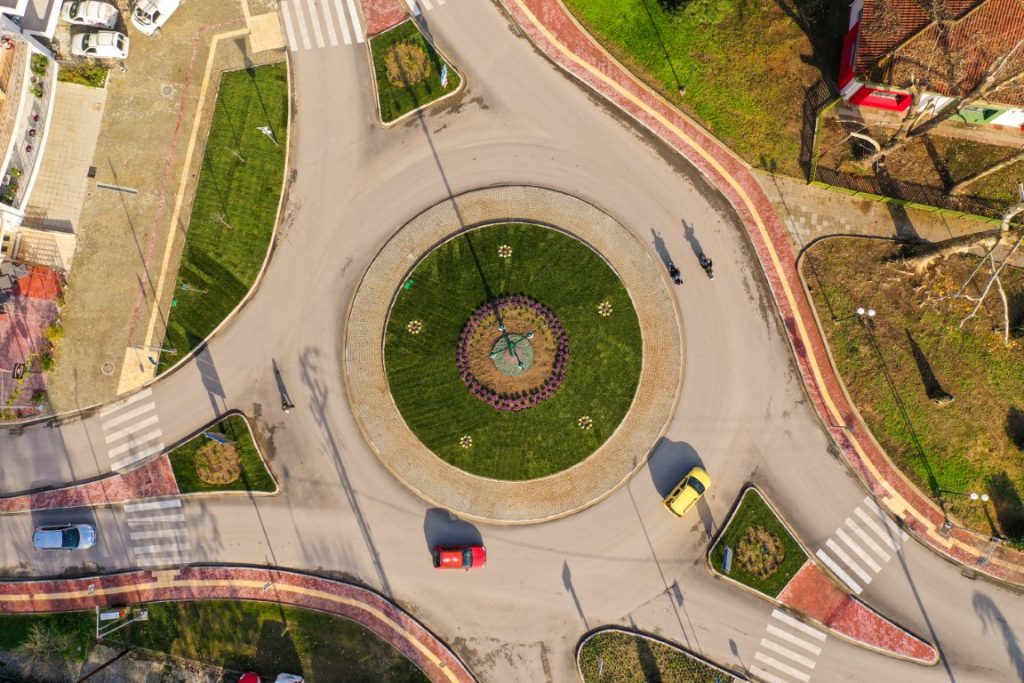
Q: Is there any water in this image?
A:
No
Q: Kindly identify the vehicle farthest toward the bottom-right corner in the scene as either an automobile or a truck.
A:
automobile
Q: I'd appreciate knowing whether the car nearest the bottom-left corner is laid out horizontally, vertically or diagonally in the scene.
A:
horizontally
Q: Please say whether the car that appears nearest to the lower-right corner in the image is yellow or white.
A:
yellow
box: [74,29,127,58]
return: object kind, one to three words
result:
van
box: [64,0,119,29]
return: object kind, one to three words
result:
van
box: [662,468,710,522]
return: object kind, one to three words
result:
car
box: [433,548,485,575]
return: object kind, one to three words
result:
car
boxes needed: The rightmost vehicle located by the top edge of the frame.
[136,0,189,36]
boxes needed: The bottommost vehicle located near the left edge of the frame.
[33,525,95,553]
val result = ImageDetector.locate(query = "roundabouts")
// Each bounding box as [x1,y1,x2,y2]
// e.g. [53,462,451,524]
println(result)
[344,186,683,524]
